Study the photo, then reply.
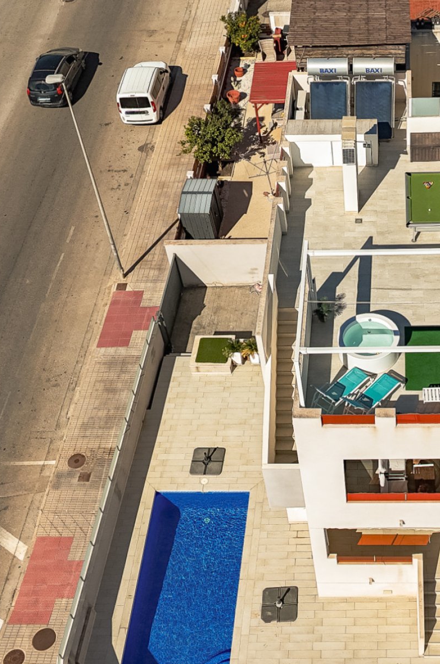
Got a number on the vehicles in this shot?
two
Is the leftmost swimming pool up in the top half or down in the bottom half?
bottom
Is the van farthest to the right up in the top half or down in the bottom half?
top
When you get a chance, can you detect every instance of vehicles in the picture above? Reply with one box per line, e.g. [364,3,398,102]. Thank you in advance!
[25,46,90,106]
[118,57,179,124]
